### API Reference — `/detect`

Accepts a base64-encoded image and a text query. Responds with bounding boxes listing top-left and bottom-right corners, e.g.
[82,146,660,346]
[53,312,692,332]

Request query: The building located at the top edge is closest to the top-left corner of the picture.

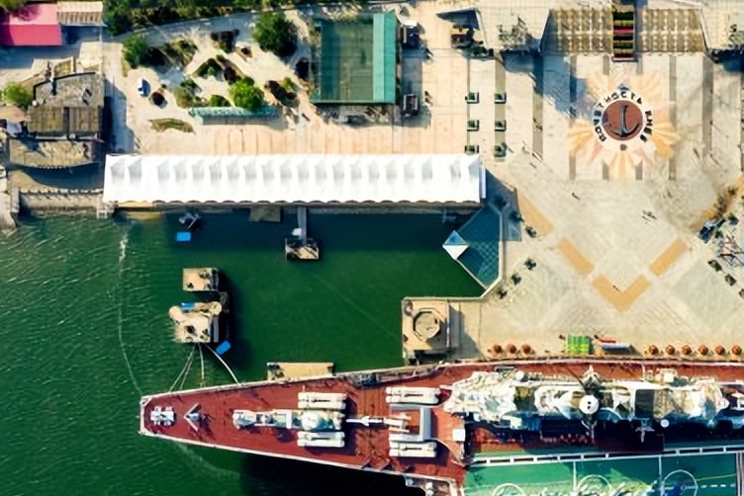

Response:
[0,4,66,47]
